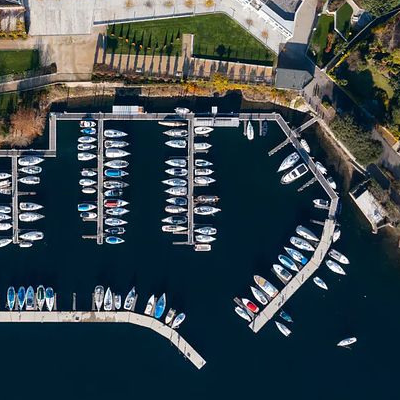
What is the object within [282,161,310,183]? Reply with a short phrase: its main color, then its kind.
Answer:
white boat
